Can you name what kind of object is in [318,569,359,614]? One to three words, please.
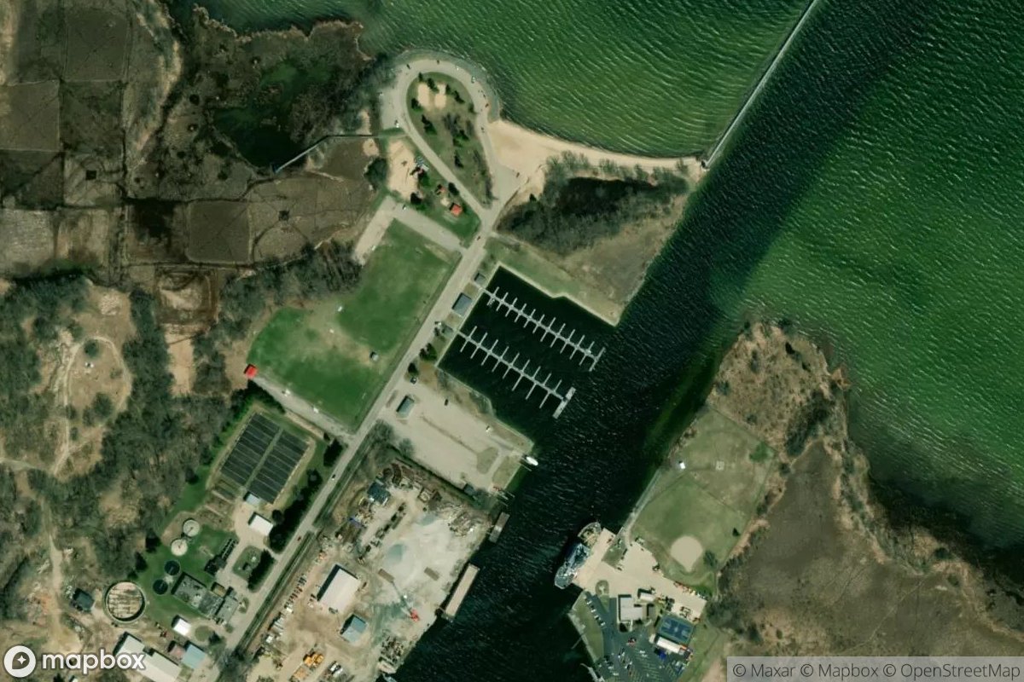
building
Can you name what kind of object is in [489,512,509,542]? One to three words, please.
ship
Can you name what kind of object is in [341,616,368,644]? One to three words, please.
building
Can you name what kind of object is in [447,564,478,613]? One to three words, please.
ship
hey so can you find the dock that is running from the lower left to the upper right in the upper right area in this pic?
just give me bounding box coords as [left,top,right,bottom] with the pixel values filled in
[706,0,815,168]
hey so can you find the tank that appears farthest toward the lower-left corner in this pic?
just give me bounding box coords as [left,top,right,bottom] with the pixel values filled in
[104,582,145,623]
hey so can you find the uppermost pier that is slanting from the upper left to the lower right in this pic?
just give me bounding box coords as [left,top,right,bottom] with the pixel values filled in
[484,286,605,371]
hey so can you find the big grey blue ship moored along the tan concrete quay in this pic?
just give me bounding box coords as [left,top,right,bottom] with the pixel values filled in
[555,522,601,589]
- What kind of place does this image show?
port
